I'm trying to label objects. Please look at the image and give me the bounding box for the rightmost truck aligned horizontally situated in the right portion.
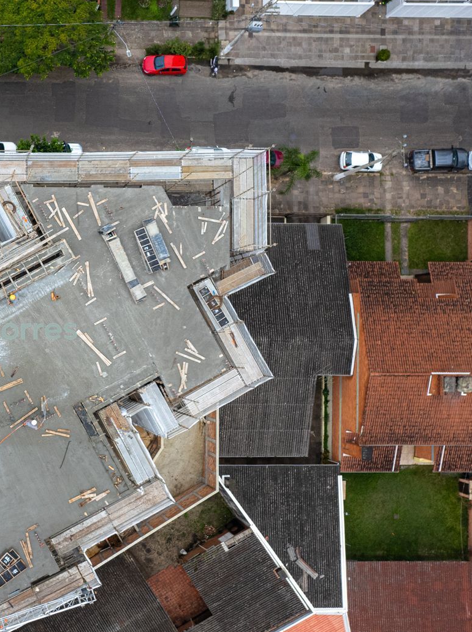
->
[404,146,467,172]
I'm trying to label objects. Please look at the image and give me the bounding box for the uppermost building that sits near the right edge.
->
[333,261,472,473]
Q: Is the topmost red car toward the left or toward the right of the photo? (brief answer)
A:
left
